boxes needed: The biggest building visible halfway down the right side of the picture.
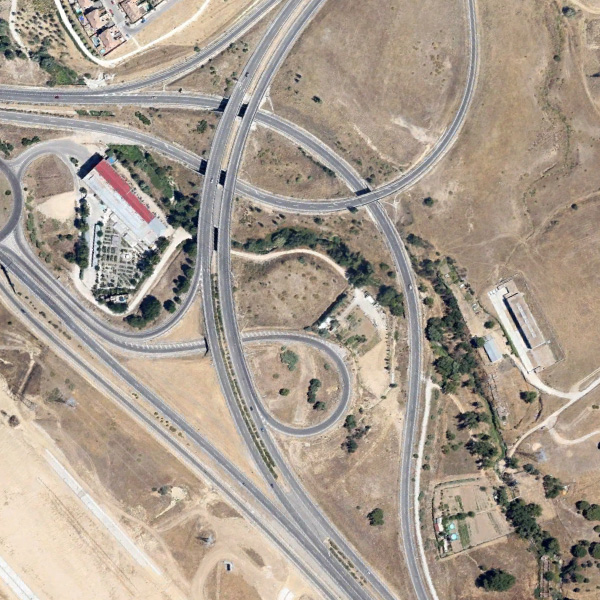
[503,291,548,350]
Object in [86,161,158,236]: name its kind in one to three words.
building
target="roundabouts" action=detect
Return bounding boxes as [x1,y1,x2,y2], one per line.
[0,156,24,242]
